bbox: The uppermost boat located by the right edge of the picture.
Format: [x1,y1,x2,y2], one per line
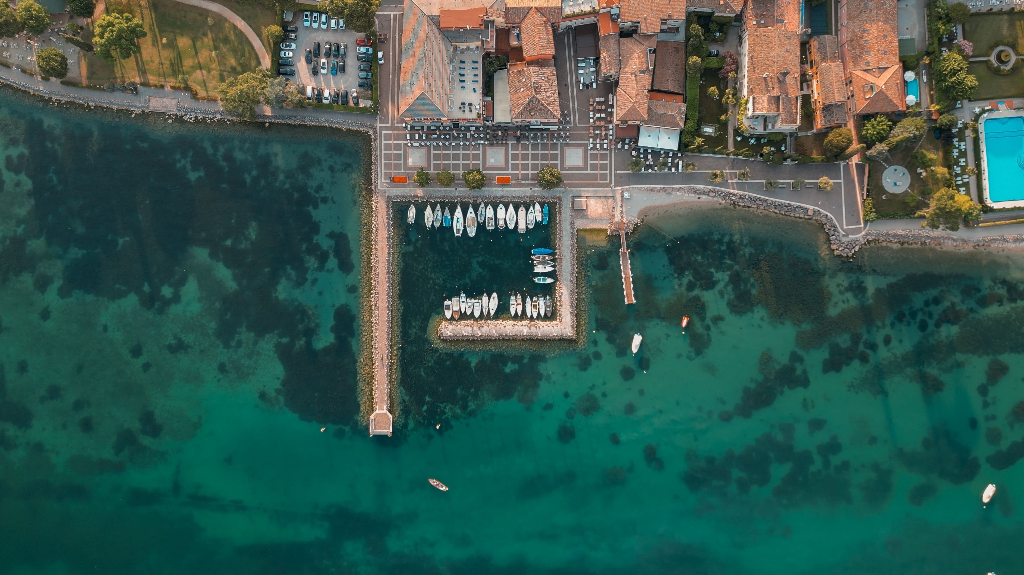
[983,483,997,503]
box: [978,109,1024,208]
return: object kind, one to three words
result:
swimming pool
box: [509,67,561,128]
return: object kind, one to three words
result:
house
